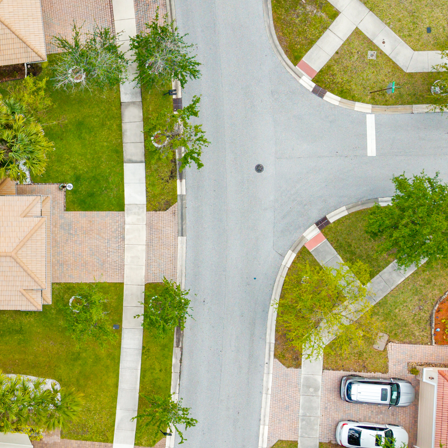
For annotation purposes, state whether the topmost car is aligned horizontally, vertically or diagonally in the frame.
horizontally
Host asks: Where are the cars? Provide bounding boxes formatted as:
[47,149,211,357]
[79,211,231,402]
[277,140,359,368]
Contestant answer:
[336,372,414,411]
[332,417,407,448]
